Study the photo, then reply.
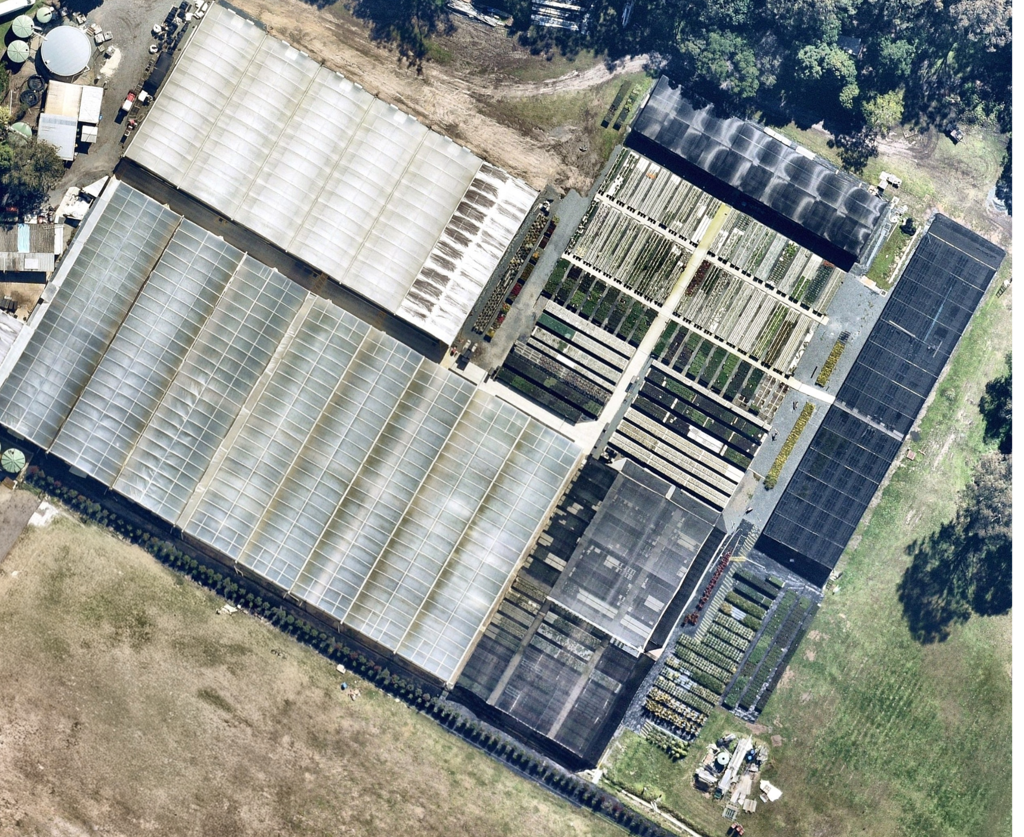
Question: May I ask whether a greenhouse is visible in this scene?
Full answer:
Yes, you can see a greenhouse in this photo.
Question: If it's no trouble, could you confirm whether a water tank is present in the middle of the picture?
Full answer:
No, in the middle of the picture there is no water tank.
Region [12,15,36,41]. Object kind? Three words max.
water tank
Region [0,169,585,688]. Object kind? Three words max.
greenhouse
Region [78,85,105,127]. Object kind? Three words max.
shed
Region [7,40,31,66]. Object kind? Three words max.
water tank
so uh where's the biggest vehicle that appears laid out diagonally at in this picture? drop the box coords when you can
[119,90,138,114]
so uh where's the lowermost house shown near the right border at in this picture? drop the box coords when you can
[762,221,1002,573]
